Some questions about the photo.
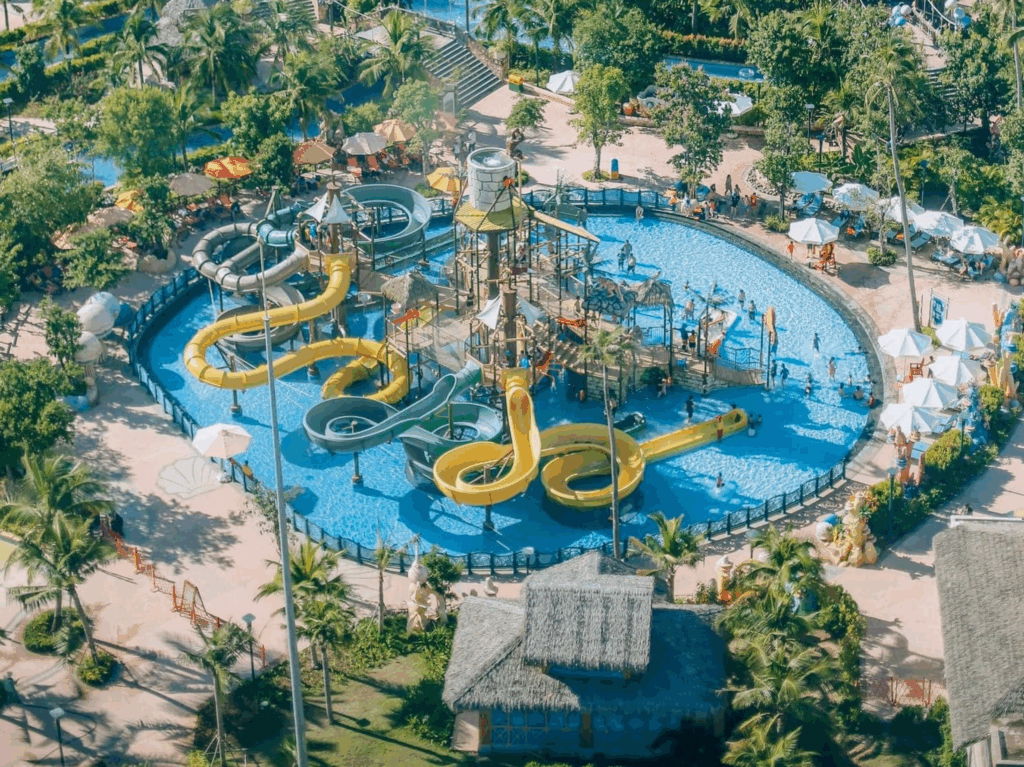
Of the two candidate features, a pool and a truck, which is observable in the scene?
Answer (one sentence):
There is a pool in the scene.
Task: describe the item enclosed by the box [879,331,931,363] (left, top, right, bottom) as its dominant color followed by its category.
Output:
white umbrella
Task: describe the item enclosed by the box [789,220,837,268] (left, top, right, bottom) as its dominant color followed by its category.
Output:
white umbrella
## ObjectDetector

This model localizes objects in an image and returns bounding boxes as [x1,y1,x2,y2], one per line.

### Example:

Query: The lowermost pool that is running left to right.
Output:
[132,214,870,572]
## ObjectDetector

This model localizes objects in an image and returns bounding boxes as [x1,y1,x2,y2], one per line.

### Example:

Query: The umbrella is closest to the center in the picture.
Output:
[425,172,465,216]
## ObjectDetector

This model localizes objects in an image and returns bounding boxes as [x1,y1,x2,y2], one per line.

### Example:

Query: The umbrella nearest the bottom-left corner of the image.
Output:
[194,429,250,460]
